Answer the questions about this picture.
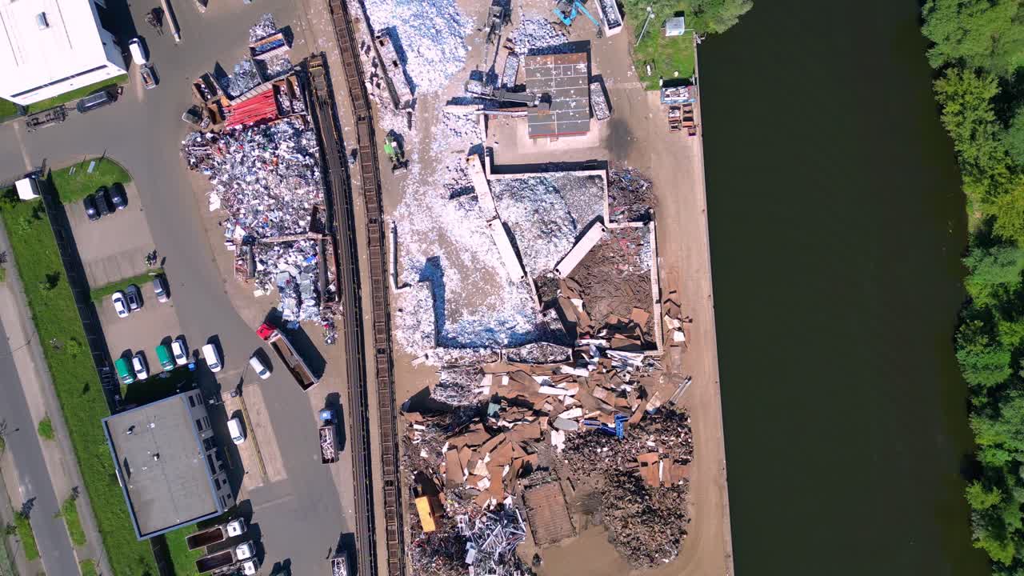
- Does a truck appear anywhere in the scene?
Yes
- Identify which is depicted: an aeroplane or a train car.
train car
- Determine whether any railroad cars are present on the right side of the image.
No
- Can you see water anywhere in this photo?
Yes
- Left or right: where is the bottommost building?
left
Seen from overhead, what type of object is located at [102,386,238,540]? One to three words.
building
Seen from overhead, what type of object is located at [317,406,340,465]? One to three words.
truck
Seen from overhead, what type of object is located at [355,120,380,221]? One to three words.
rail car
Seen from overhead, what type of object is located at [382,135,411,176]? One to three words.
work vehicle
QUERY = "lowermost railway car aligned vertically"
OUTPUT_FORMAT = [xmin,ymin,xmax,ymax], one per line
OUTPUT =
[383,481,403,576]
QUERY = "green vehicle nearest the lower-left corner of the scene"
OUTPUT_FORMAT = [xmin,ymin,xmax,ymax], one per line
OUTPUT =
[113,355,134,383]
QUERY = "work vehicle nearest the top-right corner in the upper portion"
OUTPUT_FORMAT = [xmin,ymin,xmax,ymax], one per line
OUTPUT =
[553,0,605,39]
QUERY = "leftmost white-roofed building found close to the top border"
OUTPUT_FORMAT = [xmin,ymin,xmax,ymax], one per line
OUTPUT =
[0,0,129,113]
